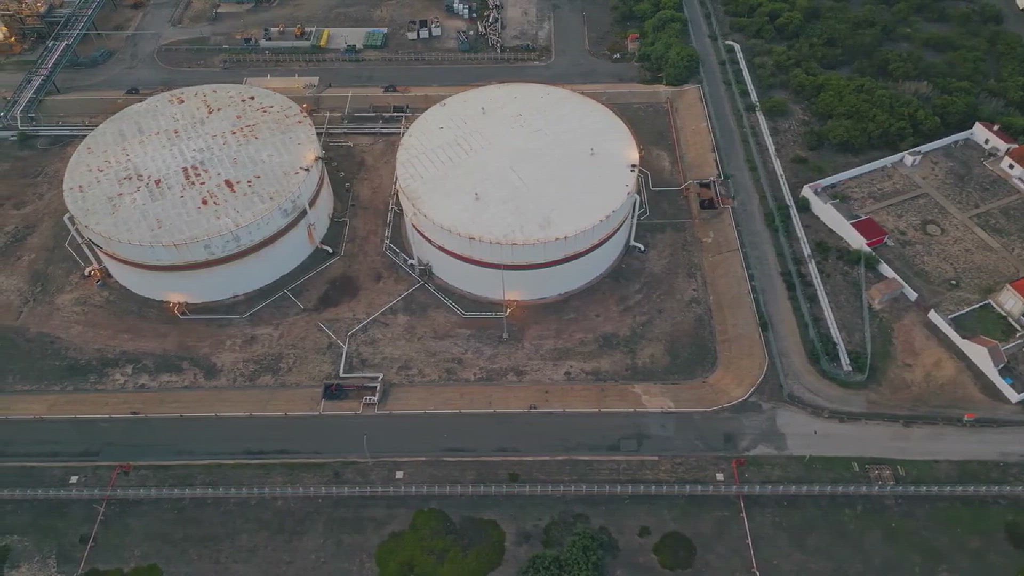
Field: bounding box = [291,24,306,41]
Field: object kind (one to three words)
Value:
work vehicle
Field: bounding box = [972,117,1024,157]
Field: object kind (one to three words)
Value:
house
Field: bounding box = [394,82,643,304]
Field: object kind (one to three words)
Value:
storage tank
